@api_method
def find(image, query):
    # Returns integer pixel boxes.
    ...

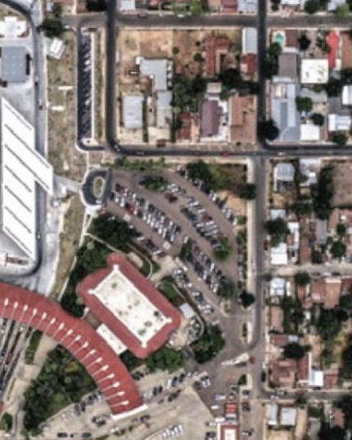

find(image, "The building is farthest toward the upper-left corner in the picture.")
[0,17,27,37]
